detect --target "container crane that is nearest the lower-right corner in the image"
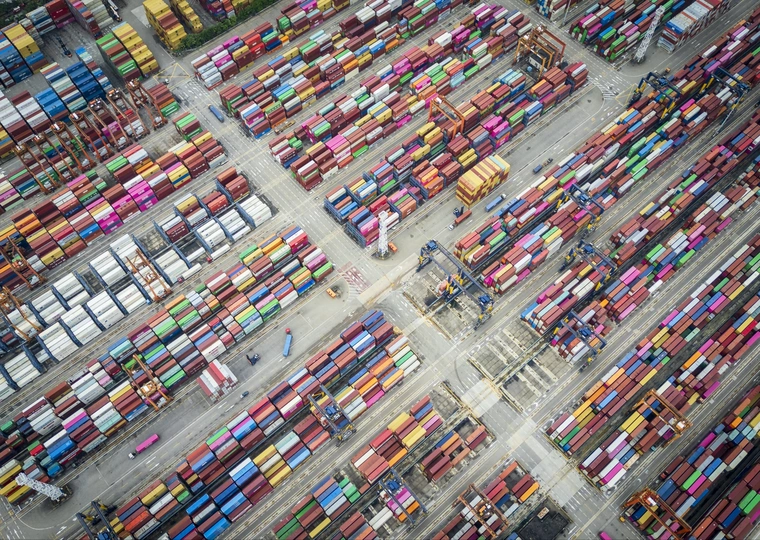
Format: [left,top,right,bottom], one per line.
[622,486,692,540]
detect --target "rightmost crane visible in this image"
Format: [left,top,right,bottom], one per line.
[698,66,751,118]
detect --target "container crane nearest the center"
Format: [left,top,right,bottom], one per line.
[420,240,467,297]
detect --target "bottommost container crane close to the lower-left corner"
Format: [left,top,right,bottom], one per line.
[75,500,123,540]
